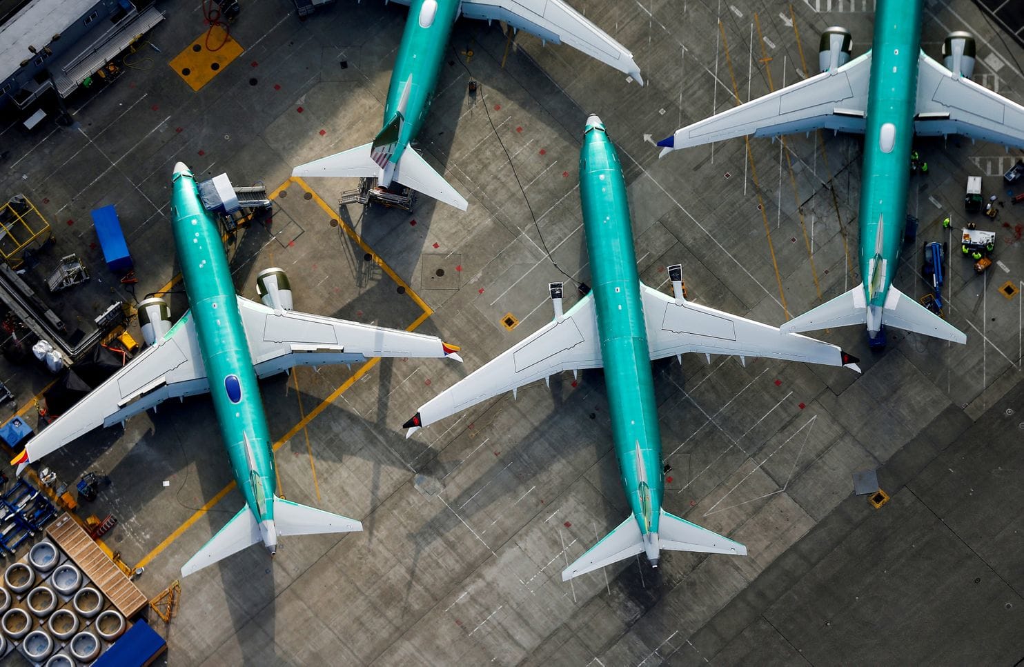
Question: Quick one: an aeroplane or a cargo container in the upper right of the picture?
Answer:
aeroplane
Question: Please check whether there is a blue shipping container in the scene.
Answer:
Yes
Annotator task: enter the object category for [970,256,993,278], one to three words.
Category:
work vehicle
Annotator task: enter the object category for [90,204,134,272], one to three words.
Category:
shipping container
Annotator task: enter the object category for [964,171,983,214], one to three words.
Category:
vehicle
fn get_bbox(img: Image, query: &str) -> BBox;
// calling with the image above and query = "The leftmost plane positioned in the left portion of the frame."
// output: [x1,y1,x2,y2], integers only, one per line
[14,163,463,575]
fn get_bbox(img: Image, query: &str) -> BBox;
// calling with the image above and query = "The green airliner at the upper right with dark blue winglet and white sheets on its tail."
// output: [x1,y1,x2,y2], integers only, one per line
[657,0,1024,341]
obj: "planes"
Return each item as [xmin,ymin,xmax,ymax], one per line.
[657,0,1024,341]
[402,114,860,578]
[292,0,641,207]
[14,163,463,575]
